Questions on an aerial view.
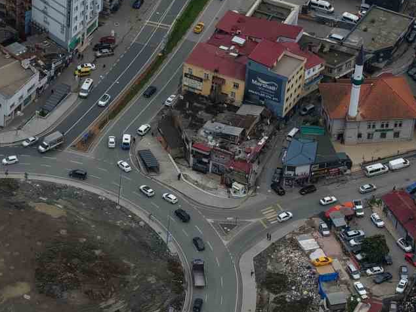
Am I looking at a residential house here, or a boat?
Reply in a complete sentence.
Of the two, only a residential house appears.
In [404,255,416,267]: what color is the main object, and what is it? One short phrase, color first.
red vehicle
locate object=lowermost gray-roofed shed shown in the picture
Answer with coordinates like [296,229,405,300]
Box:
[325,289,347,312]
